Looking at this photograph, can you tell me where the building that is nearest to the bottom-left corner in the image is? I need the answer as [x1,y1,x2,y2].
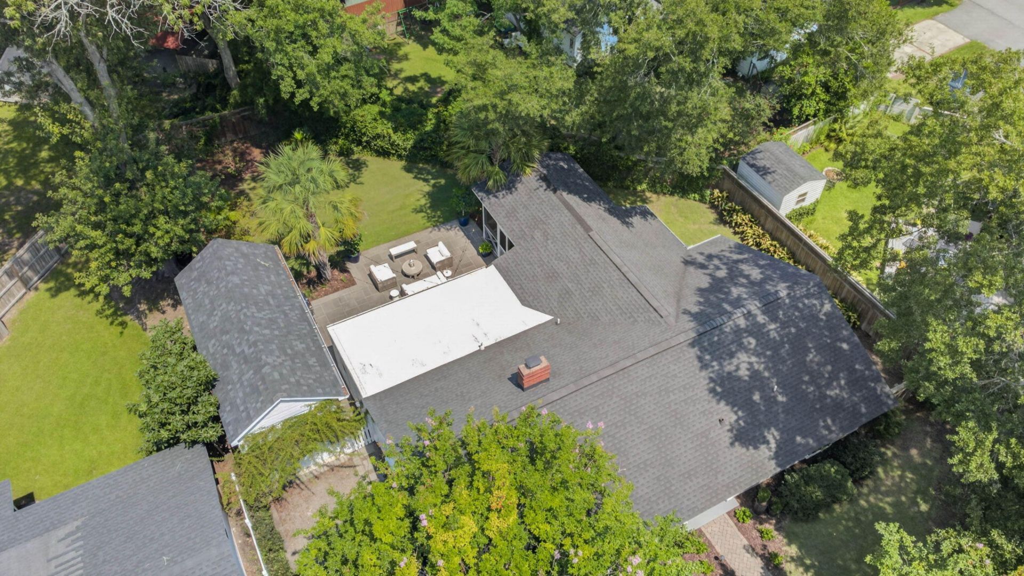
[0,445,242,576]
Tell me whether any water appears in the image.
No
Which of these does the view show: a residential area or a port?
residential area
